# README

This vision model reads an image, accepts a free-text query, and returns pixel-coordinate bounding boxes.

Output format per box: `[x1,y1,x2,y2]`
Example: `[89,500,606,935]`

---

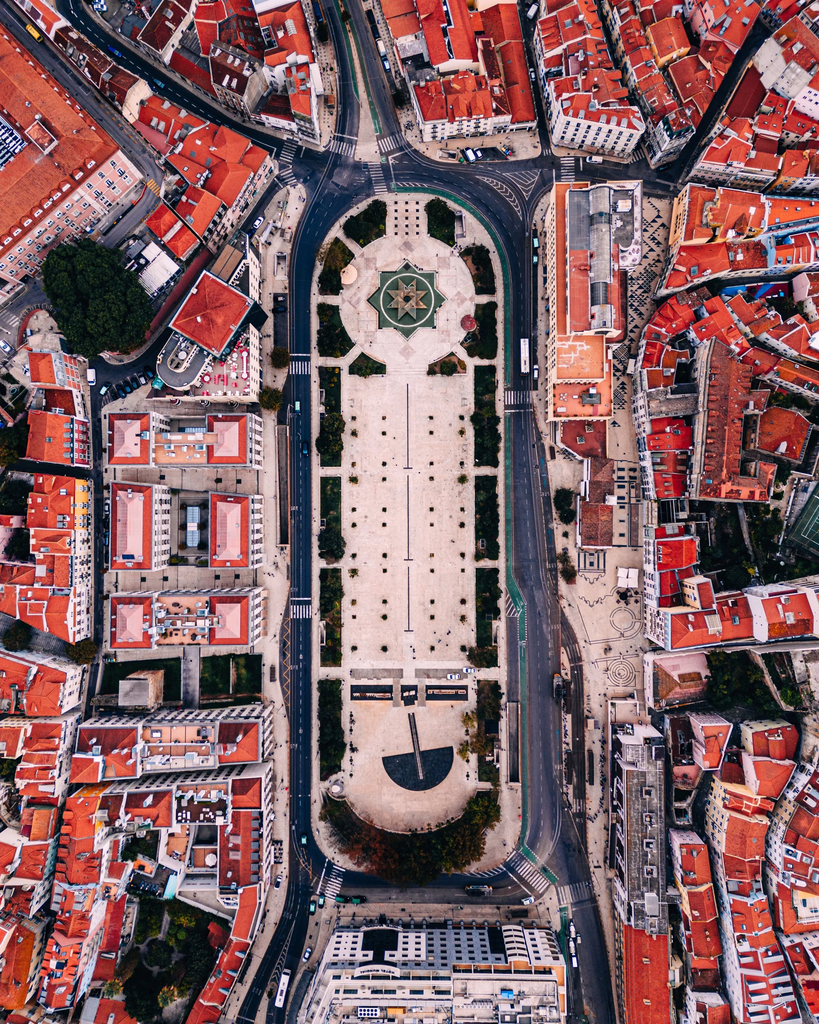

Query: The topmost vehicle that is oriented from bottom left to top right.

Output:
[527,2,540,18]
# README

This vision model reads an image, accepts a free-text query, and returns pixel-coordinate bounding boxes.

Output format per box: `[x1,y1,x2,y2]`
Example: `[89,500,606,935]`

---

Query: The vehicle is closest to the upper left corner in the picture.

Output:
[23,20,42,42]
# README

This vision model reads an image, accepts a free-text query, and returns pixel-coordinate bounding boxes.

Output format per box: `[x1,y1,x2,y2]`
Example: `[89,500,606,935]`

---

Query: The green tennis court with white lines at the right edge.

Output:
[789,481,819,553]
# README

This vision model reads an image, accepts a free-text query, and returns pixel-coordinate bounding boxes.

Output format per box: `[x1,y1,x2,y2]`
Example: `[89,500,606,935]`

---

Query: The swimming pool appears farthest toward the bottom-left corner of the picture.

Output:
[163,874,177,898]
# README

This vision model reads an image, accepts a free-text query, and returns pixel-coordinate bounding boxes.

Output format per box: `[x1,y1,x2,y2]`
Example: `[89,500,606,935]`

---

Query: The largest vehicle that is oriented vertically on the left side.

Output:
[274,969,289,1012]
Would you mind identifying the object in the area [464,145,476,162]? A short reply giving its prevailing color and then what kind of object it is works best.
white vehicle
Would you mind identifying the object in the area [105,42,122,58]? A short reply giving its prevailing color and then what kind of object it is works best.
blue vehicle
